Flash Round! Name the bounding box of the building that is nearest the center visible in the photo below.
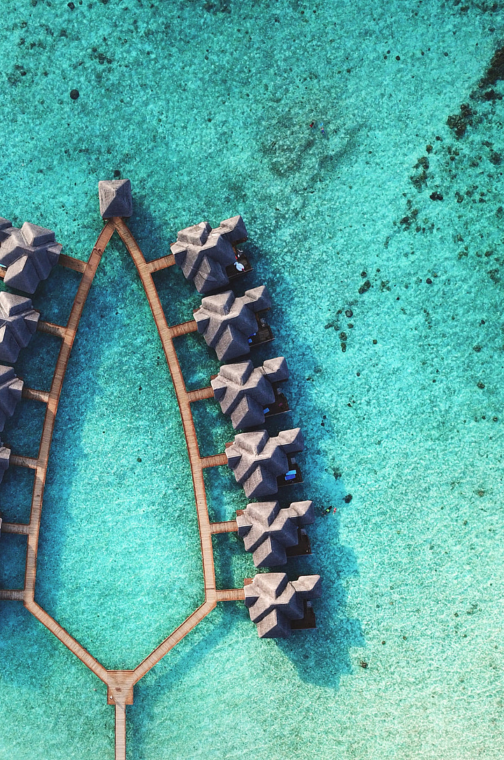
[202,356,289,425]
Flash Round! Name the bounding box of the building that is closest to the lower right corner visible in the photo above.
[238,571,320,635]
